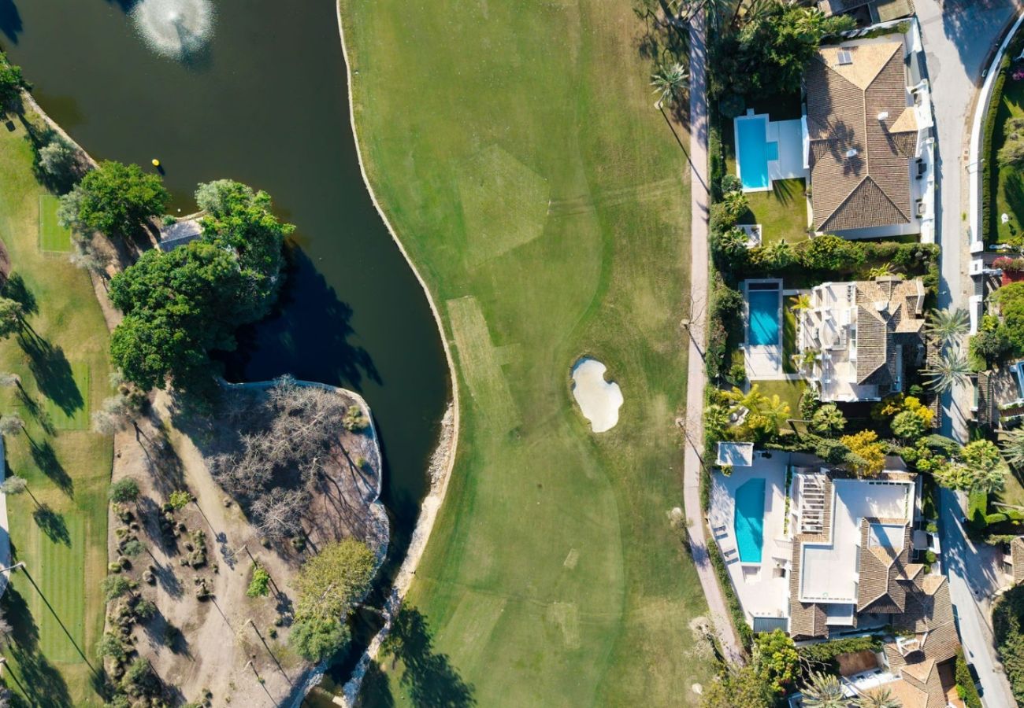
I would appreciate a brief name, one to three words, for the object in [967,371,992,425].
building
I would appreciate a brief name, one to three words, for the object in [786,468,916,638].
house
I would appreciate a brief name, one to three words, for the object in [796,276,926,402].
house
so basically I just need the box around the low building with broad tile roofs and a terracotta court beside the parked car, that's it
[832,564,959,708]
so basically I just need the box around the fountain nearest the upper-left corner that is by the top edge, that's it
[127,0,219,61]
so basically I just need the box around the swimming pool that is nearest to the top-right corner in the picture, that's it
[734,108,807,192]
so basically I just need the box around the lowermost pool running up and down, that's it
[709,452,792,634]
